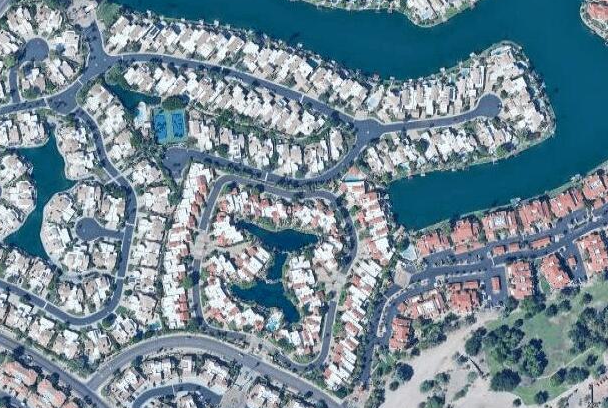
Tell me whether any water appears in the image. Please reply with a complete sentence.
Yes, the picture does contain water.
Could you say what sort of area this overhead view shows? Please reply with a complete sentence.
It's a residential area.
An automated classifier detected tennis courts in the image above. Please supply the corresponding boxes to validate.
[154,108,170,143]
[170,108,185,143]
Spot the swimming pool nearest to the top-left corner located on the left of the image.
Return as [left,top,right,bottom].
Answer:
[133,102,146,129]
